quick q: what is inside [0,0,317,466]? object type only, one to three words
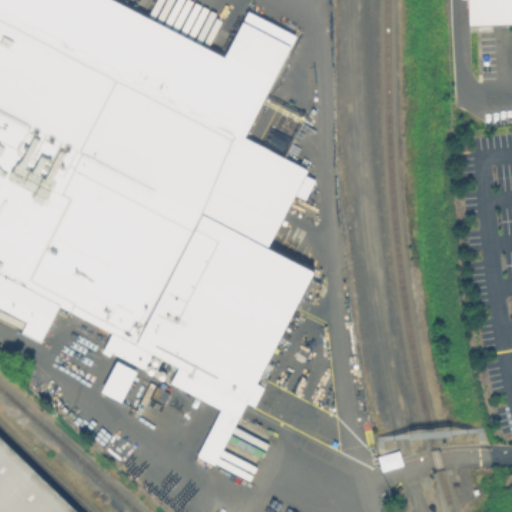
building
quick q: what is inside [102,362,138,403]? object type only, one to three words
shed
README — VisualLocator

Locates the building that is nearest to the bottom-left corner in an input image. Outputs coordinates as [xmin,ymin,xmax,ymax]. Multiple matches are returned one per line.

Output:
[0,437,78,512]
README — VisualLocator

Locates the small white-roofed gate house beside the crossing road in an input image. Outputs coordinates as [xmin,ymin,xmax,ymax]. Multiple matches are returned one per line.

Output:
[380,451,404,473]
